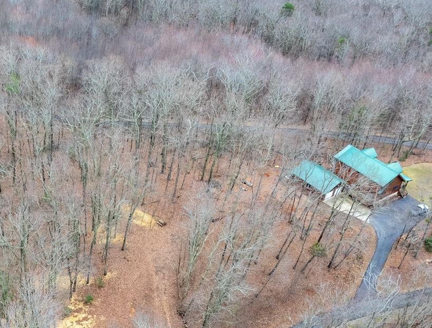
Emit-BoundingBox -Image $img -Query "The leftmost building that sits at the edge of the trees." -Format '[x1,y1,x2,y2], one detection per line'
[292,159,347,201]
